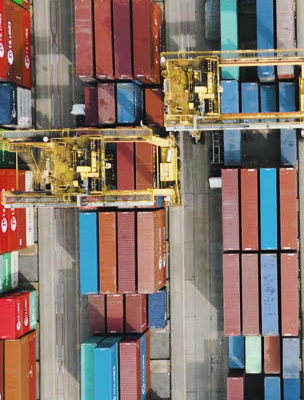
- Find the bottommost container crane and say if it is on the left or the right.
left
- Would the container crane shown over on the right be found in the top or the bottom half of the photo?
top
